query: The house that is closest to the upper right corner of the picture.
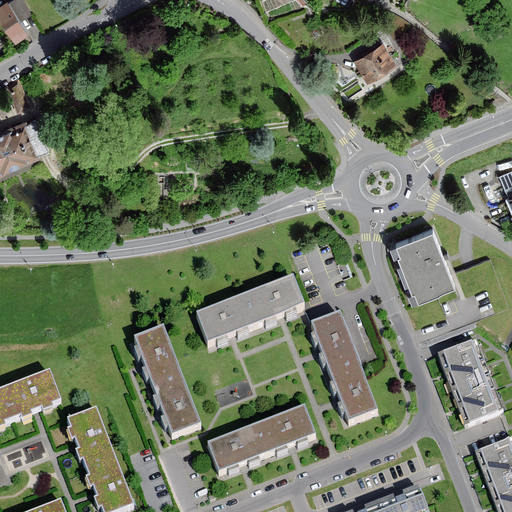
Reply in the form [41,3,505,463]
[355,44,398,86]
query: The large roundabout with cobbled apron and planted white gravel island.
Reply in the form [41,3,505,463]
[341,142,420,222]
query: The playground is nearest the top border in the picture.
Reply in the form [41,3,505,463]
[214,379,253,408]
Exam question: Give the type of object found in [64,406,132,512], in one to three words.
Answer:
building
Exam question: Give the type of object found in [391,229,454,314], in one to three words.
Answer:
building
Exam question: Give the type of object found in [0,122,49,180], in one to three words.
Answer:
house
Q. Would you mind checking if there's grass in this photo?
Yes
